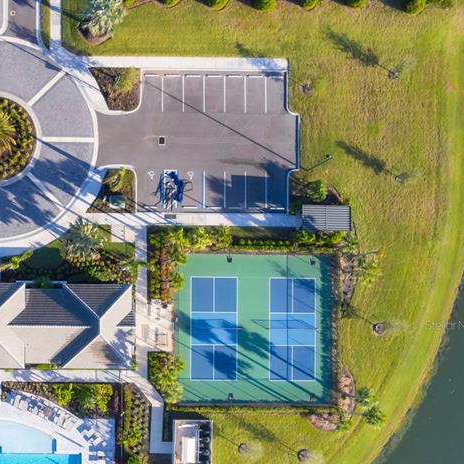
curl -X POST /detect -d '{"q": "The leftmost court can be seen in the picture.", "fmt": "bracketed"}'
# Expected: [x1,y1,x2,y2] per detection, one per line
[177,254,254,405]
